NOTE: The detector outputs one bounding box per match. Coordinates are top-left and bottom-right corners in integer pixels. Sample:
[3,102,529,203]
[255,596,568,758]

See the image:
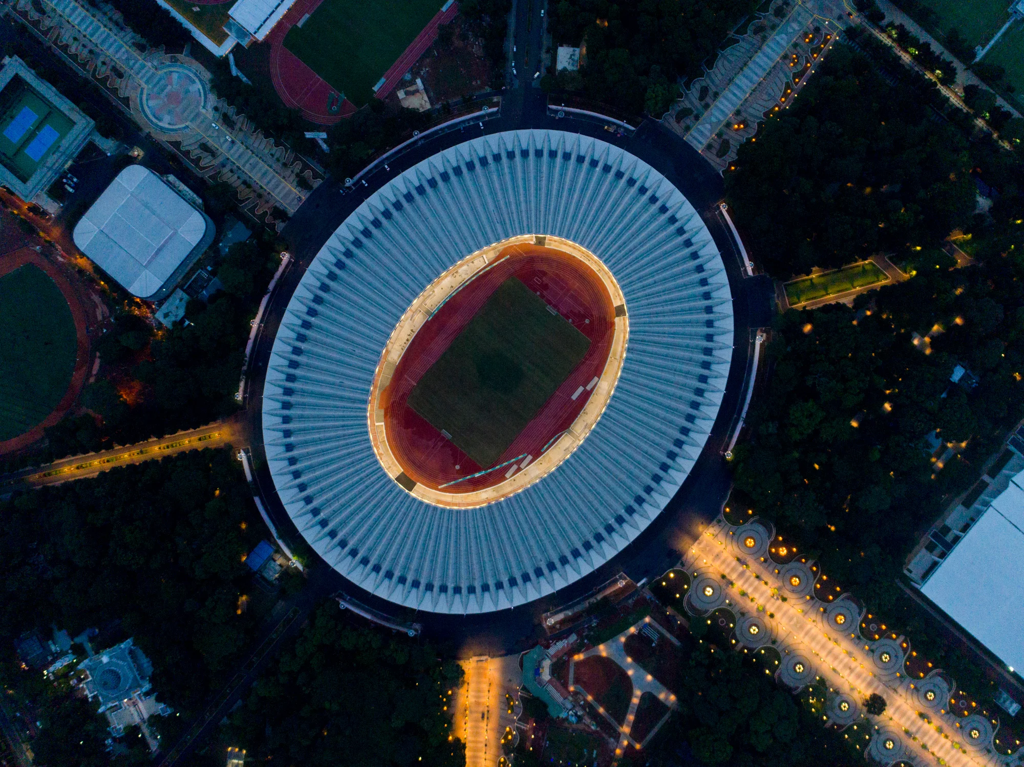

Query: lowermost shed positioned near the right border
[991,687,1021,717]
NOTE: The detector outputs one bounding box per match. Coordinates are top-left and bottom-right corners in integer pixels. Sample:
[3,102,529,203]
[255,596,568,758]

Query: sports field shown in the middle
[407,276,591,469]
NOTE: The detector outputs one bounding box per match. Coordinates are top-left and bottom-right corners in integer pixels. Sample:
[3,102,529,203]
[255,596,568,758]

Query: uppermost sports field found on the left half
[283,0,446,103]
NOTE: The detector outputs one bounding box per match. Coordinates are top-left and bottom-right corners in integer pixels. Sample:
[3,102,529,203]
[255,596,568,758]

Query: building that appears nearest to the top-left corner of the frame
[0,55,103,206]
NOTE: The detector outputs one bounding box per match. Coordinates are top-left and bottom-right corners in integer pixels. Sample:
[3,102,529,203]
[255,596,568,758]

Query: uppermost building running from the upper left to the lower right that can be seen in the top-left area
[222,17,259,52]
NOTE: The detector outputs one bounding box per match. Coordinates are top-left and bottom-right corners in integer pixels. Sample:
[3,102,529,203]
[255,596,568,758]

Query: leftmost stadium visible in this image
[73,165,215,299]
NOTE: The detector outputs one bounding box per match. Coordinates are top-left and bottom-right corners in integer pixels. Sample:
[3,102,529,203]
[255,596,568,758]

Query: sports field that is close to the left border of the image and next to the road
[0,248,91,453]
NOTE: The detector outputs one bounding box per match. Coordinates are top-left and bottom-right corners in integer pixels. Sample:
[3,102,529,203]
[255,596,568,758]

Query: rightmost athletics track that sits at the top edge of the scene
[265,0,474,125]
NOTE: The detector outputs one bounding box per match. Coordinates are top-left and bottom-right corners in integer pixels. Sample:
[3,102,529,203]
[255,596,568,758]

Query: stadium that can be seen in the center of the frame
[258,126,738,617]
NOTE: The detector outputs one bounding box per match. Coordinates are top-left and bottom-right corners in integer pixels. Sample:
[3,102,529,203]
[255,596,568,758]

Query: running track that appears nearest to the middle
[381,247,617,498]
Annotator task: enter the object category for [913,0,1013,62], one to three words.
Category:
sports field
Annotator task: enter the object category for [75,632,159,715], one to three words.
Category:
building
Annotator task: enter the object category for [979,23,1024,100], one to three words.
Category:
sports field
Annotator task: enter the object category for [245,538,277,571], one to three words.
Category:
house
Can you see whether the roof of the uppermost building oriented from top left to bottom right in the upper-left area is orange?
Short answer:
No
